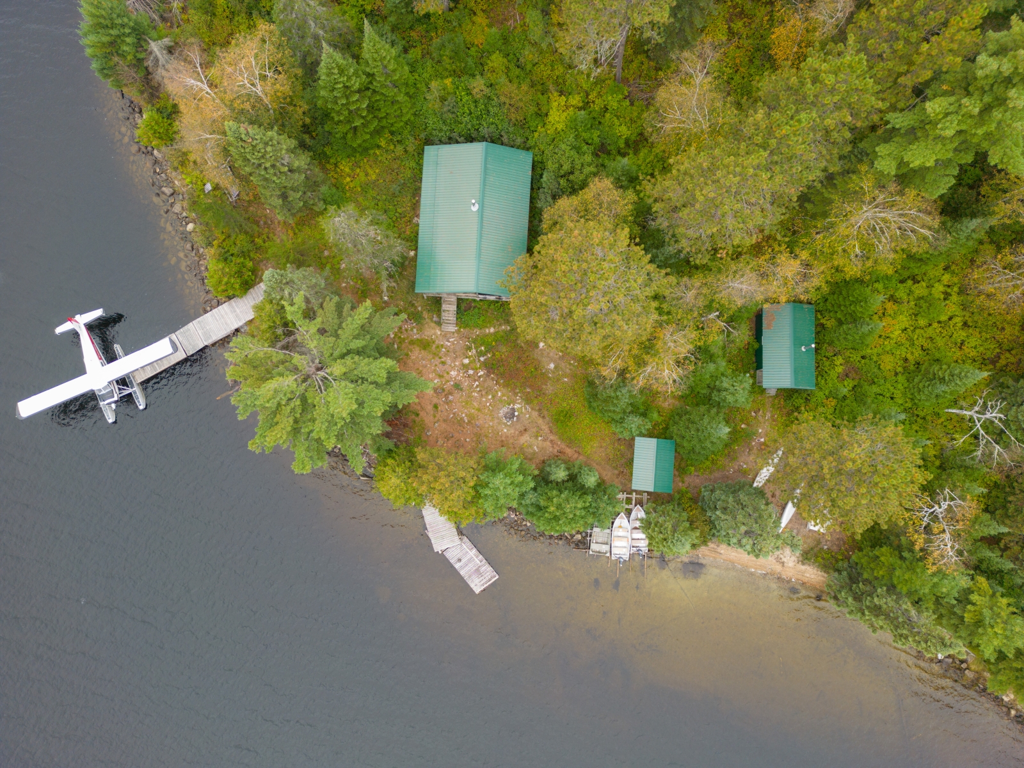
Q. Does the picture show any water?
Yes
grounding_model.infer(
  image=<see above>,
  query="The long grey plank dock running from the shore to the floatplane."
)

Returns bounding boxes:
[132,294,260,384]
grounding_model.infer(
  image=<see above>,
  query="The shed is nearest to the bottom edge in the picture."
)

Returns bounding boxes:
[630,437,675,494]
